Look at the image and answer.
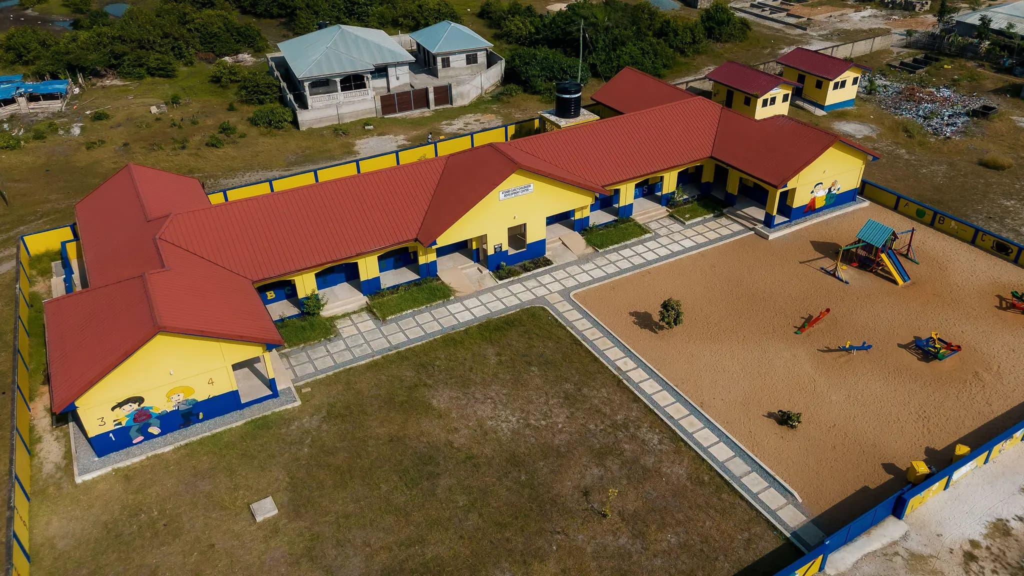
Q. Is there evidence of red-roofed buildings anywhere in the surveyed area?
Yes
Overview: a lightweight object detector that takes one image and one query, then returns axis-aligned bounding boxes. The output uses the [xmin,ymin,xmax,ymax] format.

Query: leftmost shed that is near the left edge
[0,73,72,118]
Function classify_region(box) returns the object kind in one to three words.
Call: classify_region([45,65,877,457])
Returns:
building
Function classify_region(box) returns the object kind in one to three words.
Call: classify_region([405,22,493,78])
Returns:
house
